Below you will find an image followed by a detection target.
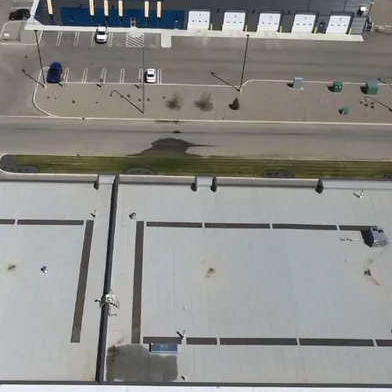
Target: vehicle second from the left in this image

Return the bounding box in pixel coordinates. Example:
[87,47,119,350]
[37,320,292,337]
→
[48,63,62,79]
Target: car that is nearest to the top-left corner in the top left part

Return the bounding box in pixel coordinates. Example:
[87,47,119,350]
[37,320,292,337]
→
[6,6,30,19]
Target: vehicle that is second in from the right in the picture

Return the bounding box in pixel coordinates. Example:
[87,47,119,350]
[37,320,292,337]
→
[96,24,108,41]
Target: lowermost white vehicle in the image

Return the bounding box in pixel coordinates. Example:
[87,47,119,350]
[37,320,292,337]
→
[143,66,156,82]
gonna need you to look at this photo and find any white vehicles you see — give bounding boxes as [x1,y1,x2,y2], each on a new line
[143,66,156,82]
[96,24,108,41]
